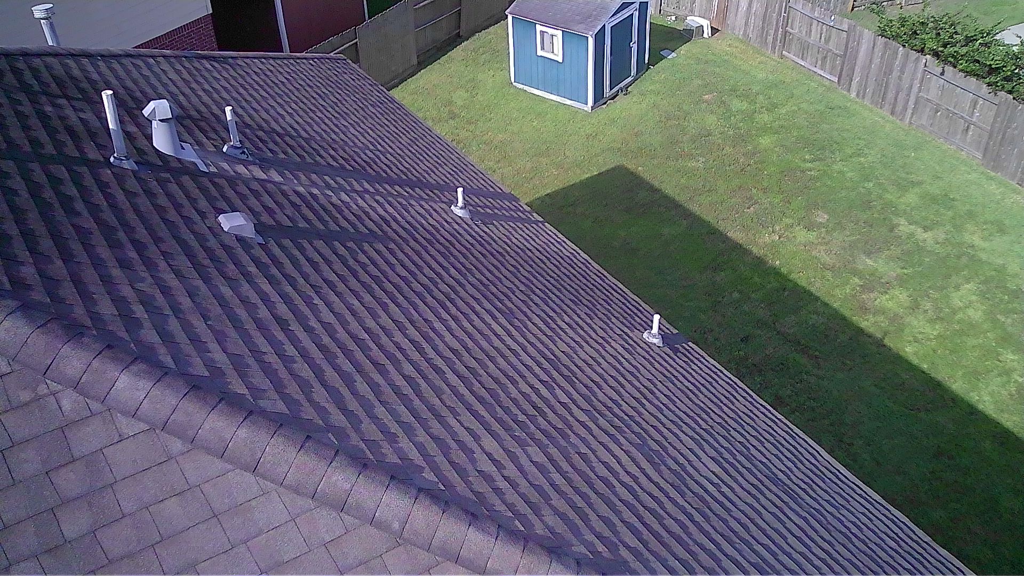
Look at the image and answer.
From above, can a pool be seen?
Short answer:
No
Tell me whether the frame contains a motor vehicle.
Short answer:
No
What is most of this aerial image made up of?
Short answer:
buildings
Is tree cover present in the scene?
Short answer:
No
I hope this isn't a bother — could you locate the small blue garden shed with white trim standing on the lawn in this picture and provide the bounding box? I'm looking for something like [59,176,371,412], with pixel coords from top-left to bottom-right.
[506,0,654,111]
